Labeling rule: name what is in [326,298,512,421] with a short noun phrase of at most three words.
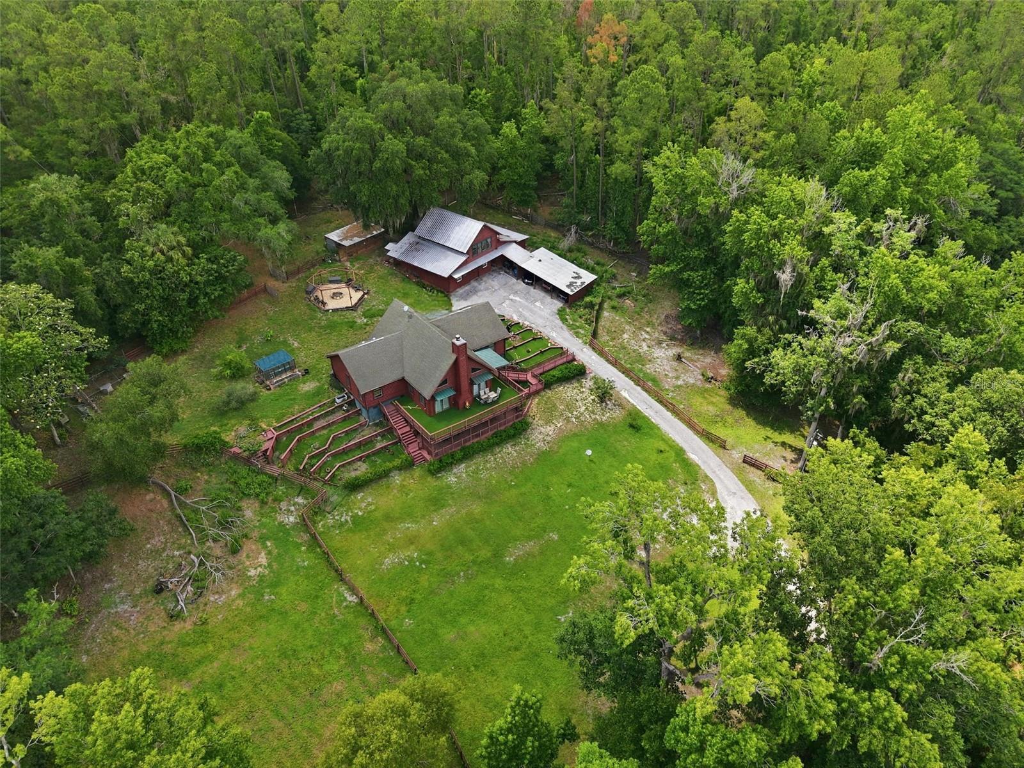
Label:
house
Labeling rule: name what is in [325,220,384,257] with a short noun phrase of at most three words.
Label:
shed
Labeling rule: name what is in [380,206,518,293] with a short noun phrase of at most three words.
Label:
barn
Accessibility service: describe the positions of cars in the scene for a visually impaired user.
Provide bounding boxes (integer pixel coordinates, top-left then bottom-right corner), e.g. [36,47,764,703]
[524,273,542,285]
[558,292,569,303]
